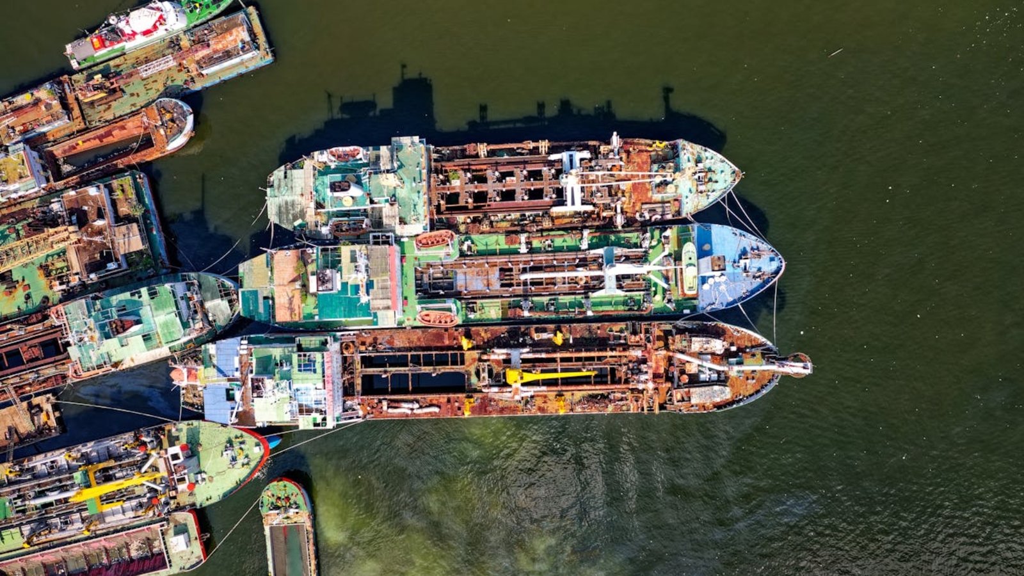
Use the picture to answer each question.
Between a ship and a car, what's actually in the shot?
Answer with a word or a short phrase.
ship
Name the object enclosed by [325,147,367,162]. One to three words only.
boat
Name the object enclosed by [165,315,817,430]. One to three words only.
ship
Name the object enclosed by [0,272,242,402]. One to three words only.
ship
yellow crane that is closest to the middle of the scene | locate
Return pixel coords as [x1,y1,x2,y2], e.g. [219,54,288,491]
[507,366,599,385]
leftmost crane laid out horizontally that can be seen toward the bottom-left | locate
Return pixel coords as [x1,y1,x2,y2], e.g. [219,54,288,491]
[69,458,172,514]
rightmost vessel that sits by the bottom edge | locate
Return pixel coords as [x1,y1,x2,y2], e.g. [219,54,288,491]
[258,473,321,576]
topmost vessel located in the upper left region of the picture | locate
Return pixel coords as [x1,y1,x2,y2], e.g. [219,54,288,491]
[61,0,247,72]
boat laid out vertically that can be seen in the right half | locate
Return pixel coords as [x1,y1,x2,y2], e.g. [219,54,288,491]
[680,243,697,295]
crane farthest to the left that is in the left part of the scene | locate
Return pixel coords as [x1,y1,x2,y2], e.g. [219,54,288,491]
[0,222,94,273]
